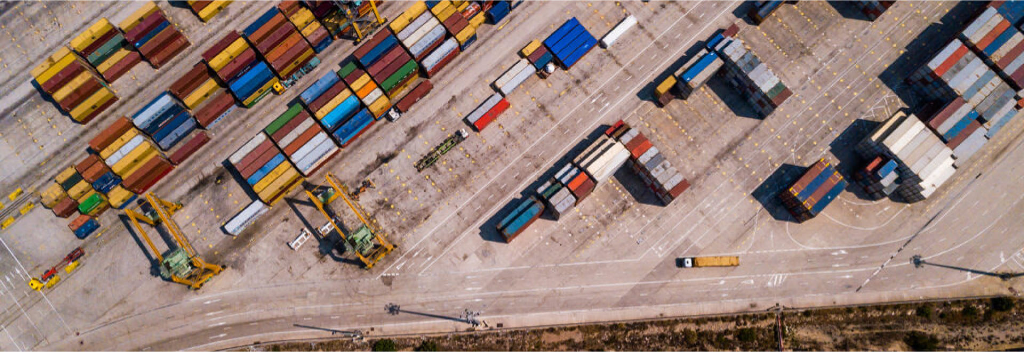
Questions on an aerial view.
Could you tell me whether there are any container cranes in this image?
Yes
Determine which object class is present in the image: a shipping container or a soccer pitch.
shipping container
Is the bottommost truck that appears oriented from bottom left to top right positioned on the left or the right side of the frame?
left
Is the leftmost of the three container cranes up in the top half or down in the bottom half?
bottom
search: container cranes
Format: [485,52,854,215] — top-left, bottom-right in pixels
[332,0,389,46]
[123,190,230,293]
[305,171,401,273]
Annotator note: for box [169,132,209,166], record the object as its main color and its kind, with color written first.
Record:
red shipping container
